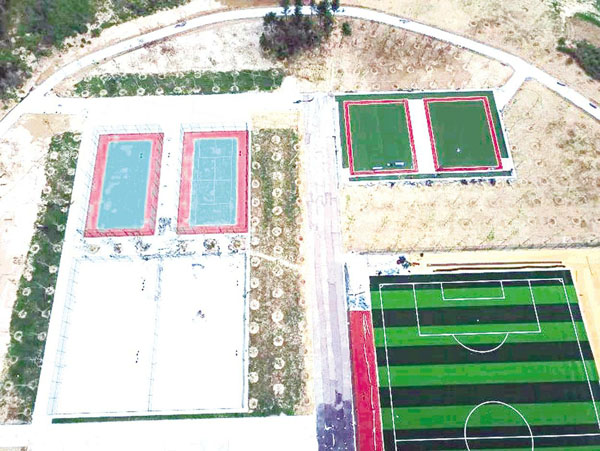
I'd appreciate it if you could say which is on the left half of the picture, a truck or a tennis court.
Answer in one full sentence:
What appears on the left half of the picture is a tennis court.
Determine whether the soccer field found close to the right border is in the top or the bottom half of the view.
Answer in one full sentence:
You can find the soccer field found close to the right border in the bottom half.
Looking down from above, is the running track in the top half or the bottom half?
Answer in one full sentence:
The running track is in the bottom half of the image.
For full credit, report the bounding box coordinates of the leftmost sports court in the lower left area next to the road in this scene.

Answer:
[51,257,158,415]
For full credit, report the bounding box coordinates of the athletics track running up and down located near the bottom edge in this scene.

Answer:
[343,308,385,451]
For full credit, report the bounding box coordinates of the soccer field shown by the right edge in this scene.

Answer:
[369,269,600,451]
